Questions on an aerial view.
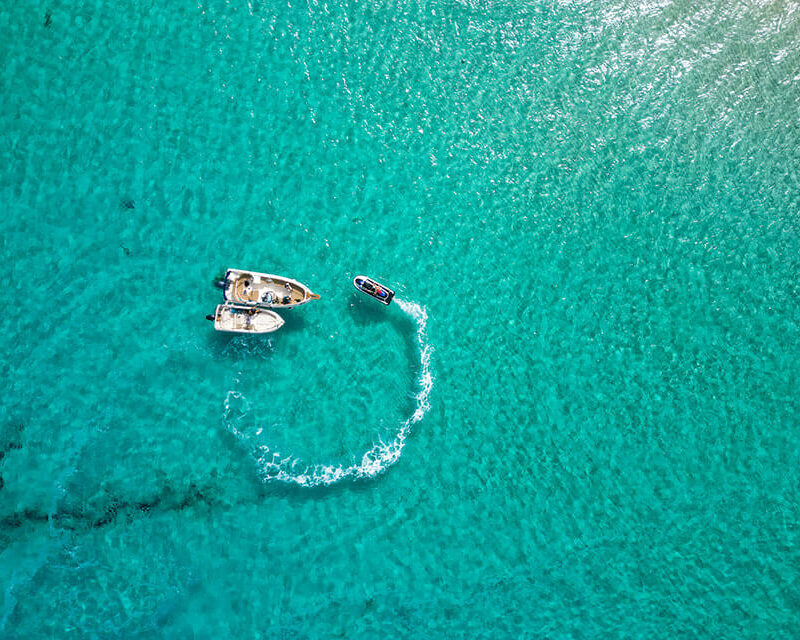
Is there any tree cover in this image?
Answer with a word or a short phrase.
No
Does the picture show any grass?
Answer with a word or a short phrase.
No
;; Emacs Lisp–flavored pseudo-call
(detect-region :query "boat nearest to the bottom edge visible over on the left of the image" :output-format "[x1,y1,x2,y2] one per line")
[206,305,285,333]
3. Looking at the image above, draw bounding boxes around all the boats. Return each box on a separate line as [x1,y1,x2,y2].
[206,305,285,333]
[213,270,320,309]
[354,276,394,304]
